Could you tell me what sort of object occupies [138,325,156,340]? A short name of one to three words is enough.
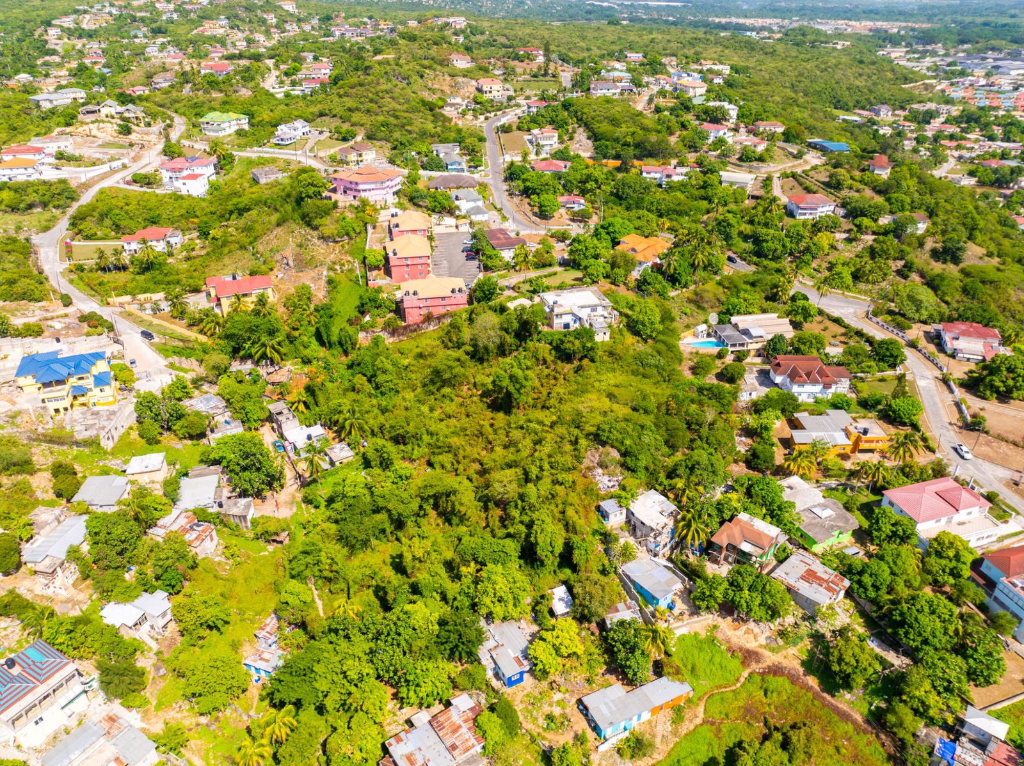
car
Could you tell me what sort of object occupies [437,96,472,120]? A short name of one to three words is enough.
house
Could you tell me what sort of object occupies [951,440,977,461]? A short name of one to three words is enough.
truck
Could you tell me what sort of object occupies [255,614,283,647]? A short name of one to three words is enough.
shed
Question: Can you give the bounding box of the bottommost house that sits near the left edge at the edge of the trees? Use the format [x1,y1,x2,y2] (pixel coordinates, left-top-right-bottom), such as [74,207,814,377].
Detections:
[49,715,158,766]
